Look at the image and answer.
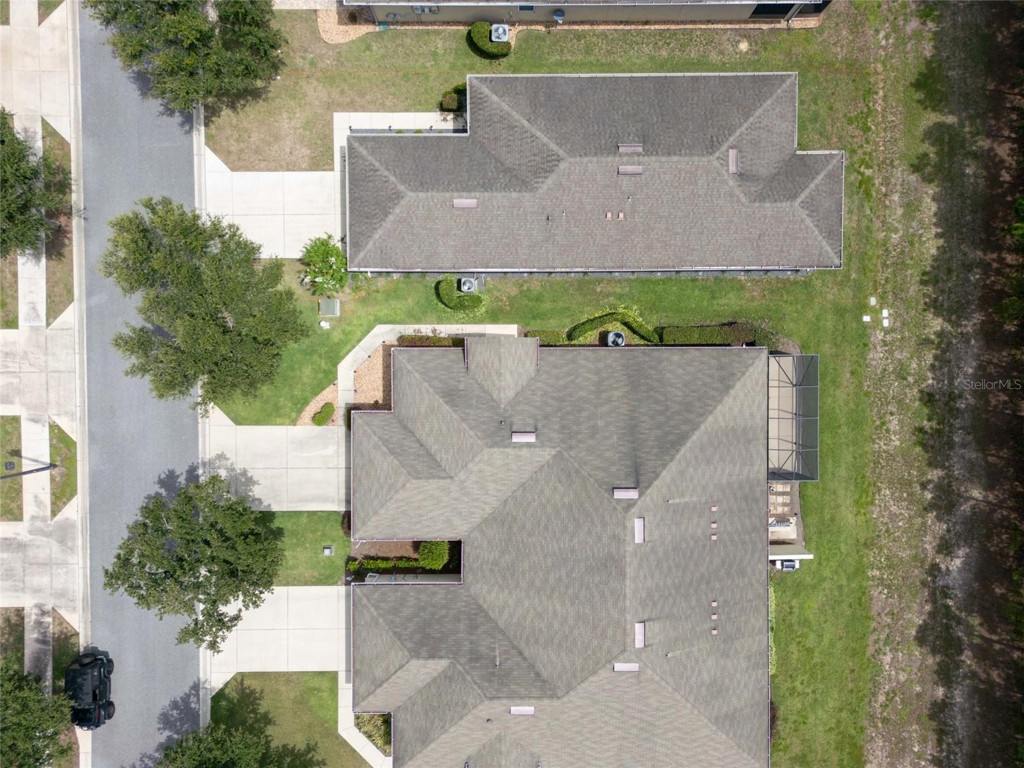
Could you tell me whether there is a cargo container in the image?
No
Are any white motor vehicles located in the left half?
No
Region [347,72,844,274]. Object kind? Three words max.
house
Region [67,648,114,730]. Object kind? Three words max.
car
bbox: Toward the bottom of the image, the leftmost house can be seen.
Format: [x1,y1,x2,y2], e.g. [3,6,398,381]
[352,337,768,768]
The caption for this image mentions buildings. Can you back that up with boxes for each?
[352,337,768,768]
[343,0,836,23]
[347,72,844,274]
